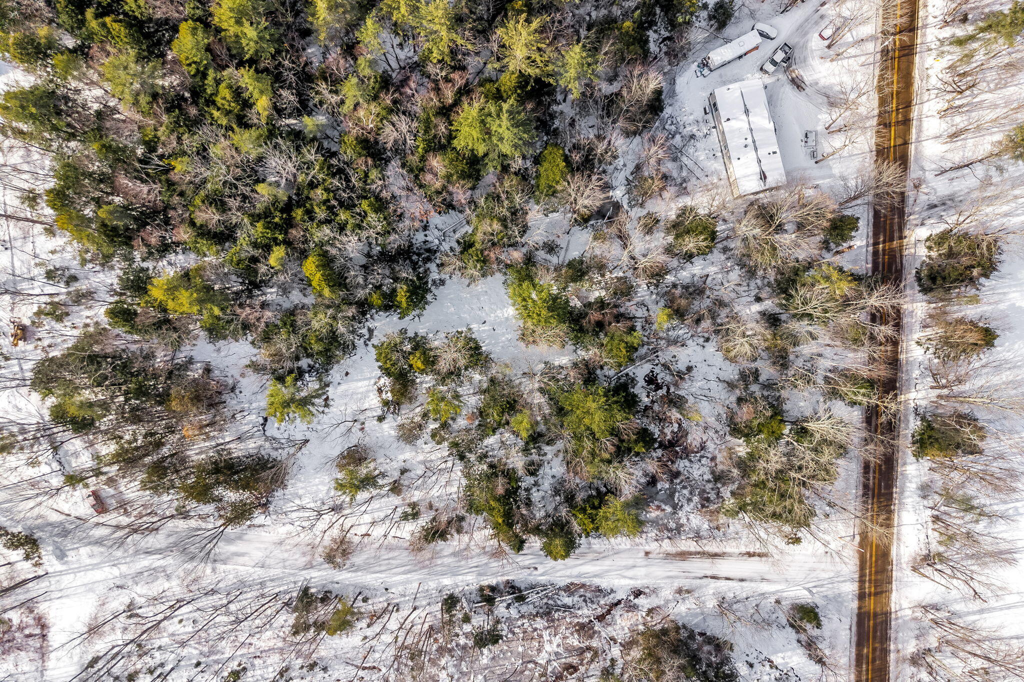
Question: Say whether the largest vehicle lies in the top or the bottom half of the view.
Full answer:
The largest vehicle is in the top half of the image.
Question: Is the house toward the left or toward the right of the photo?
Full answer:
You can find the house on the right side of the picture.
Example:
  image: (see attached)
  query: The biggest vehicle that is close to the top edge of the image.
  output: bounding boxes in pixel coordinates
[701,28,762,72]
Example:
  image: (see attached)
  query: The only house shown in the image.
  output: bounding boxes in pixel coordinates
[710,78,787,196]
